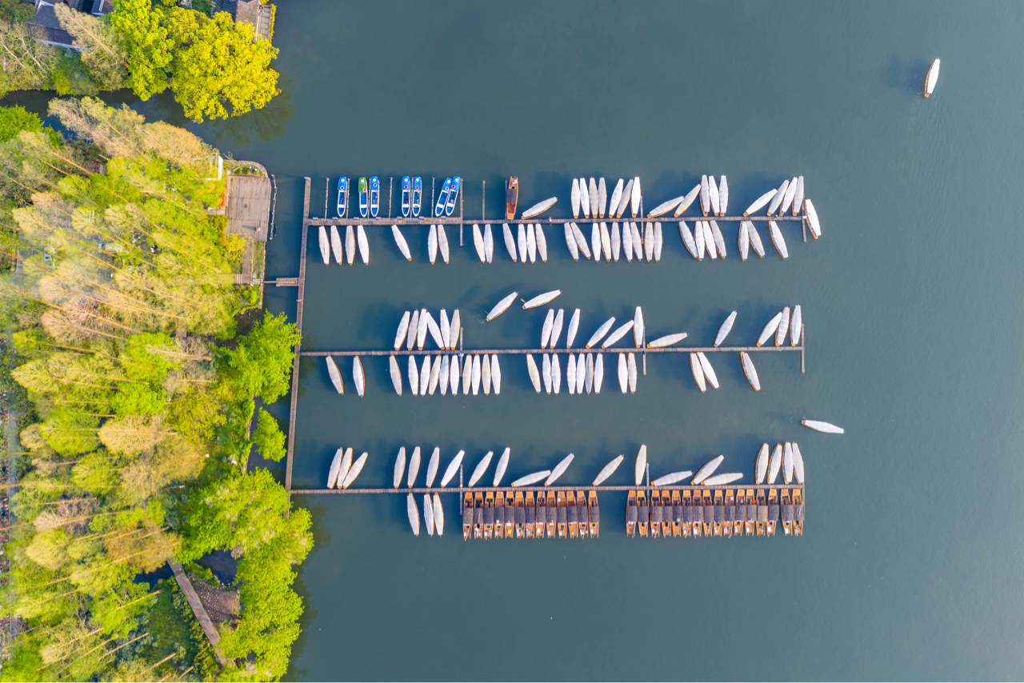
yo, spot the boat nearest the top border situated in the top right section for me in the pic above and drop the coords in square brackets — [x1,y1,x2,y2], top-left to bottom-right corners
[915,56,940,100]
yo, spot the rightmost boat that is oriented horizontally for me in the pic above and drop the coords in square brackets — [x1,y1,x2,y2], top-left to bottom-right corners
[798,412,845,433]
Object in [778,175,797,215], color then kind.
white boat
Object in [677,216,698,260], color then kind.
white boat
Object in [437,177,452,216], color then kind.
blue boat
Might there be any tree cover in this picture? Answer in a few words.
Yes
